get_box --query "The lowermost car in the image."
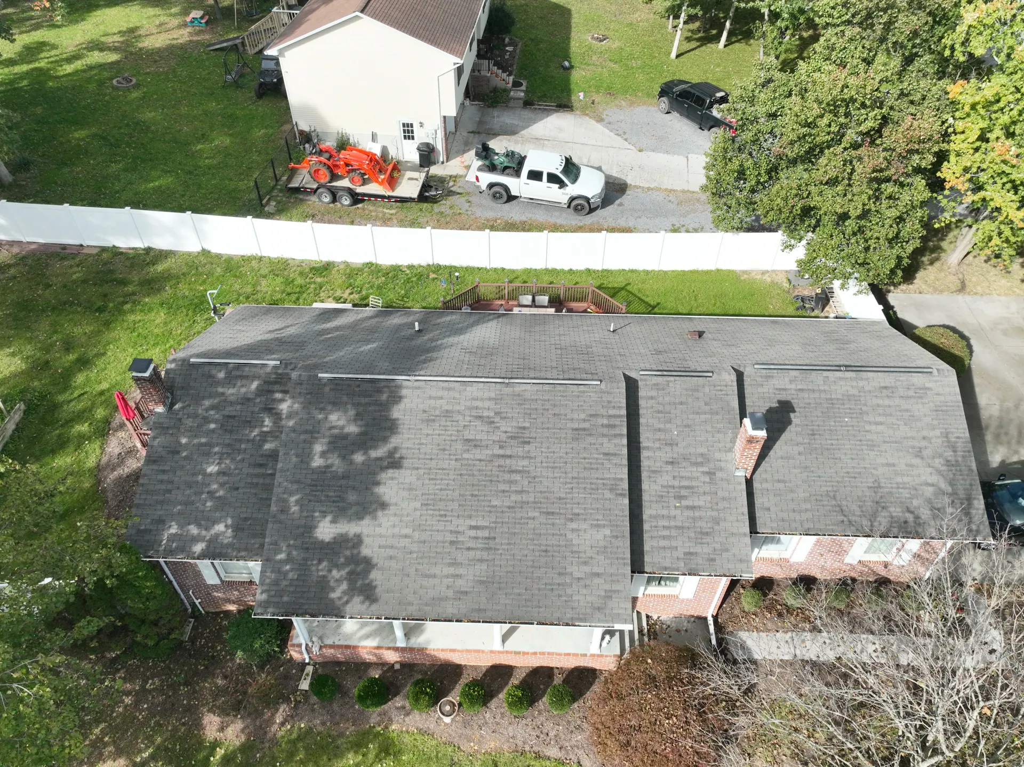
[981,473,1024,552]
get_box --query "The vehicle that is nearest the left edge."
[256,50,287,96]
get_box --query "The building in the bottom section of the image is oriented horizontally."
[123,305,994,672]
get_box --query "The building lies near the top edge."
[266,0,520,163]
